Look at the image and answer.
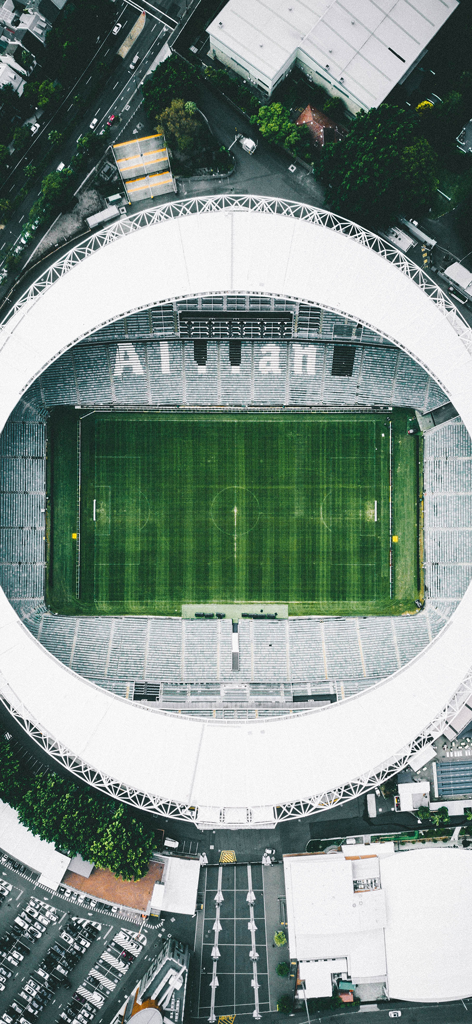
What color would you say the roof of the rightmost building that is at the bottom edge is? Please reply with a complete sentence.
The color of the roof on the rightmost building that is at the bottom edge is white.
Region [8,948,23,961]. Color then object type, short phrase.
white vehicle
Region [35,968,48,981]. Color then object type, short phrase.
white vehicle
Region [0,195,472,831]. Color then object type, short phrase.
white stadium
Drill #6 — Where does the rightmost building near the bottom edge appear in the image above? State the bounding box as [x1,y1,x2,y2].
[379,844,472,1006]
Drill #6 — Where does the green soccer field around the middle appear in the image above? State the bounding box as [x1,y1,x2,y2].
[44,406,426,623]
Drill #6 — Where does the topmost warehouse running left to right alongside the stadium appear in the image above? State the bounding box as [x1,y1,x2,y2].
[206,0,466,119]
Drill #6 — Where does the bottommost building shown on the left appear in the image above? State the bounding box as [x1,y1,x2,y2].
[107,940,190,1024]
